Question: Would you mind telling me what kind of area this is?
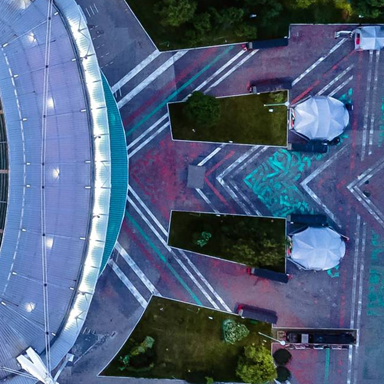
sports ground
